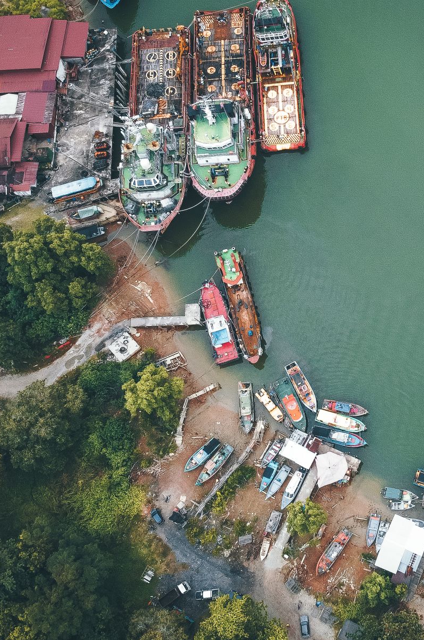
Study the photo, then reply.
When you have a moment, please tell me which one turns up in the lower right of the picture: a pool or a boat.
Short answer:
boat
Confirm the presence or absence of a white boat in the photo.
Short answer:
Yes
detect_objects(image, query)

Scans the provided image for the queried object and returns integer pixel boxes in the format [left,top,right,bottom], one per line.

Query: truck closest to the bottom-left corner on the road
[157,581,191,611]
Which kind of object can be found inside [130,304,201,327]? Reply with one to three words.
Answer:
pier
